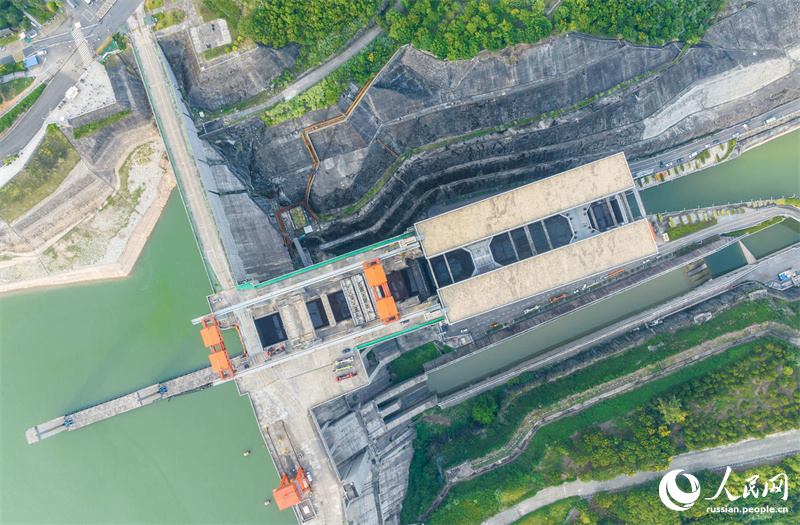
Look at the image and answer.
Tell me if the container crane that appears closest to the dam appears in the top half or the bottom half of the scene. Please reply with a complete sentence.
The container crane that appears closest to the dam is in the bottom half of the image.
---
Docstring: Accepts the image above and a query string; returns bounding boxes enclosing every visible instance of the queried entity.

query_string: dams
[130,22,299,295]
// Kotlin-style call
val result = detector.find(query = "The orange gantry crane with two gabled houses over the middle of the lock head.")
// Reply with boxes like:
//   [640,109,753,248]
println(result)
[359,257,398,327]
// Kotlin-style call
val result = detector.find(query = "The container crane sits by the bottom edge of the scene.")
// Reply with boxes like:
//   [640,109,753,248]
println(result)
[273,452,315,512]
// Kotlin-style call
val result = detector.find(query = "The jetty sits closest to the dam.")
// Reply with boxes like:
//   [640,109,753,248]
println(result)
[156,366,211,399]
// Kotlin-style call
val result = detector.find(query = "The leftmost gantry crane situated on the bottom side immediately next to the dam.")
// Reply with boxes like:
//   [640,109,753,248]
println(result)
[198,312,247,386]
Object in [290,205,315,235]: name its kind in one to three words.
building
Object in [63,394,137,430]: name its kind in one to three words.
pier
